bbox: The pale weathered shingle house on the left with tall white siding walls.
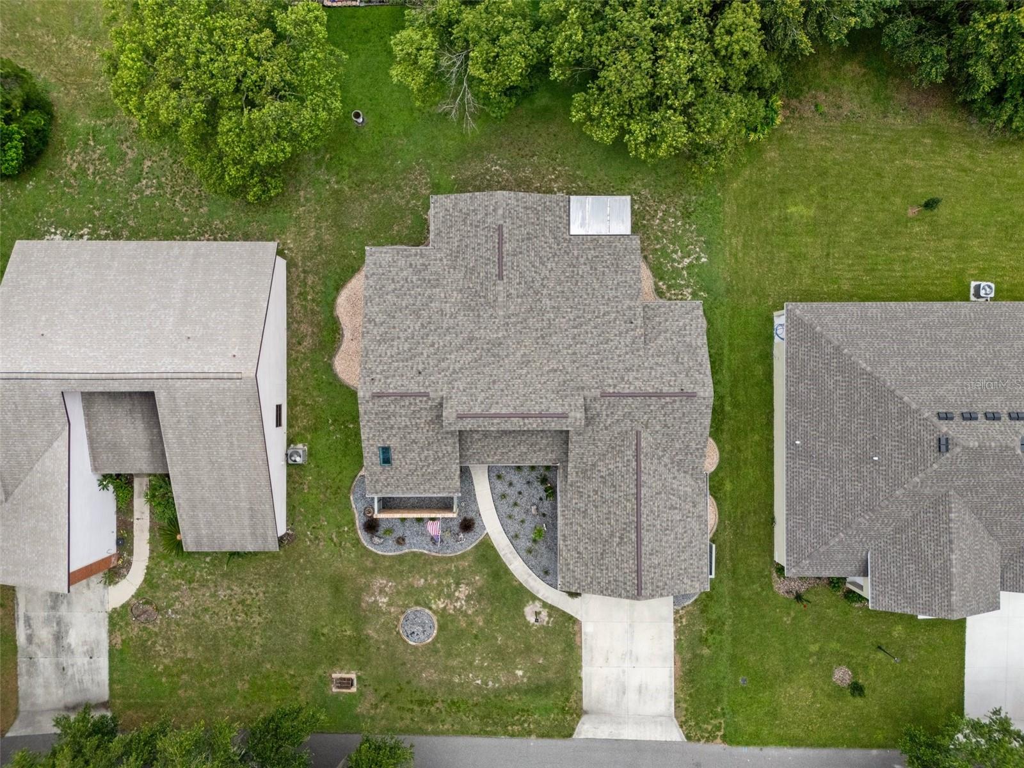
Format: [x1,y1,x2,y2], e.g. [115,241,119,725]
[0,239,288,592]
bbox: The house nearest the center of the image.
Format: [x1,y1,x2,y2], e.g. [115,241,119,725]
[357,191,713,599]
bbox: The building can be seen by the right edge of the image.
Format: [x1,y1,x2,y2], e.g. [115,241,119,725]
[774,301,1024,619]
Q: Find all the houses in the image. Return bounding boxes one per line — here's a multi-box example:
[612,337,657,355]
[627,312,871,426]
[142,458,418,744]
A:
[357,191,713,599]
[774,301,1024,619]
[0,239,288,592]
